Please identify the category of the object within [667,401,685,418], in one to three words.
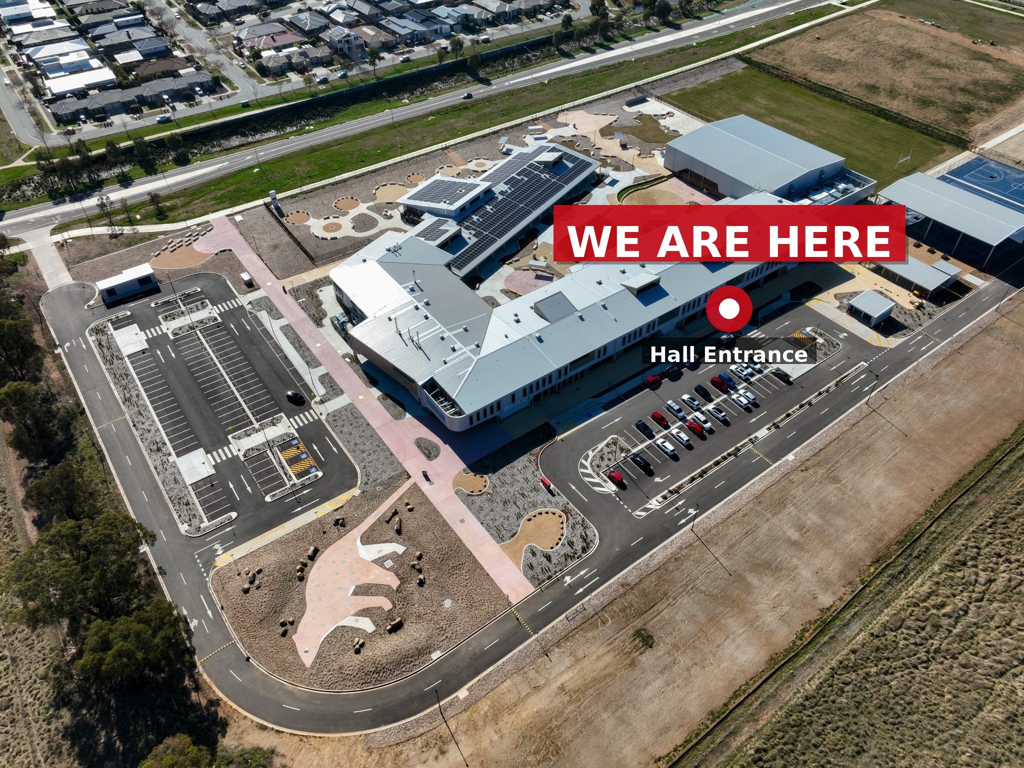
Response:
car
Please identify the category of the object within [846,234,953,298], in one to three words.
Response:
shed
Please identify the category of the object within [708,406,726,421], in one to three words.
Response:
car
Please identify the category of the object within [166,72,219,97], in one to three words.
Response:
house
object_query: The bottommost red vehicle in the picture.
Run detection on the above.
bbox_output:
[605,467,625,486]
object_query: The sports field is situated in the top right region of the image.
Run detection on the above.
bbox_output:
[659,65,965,195]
